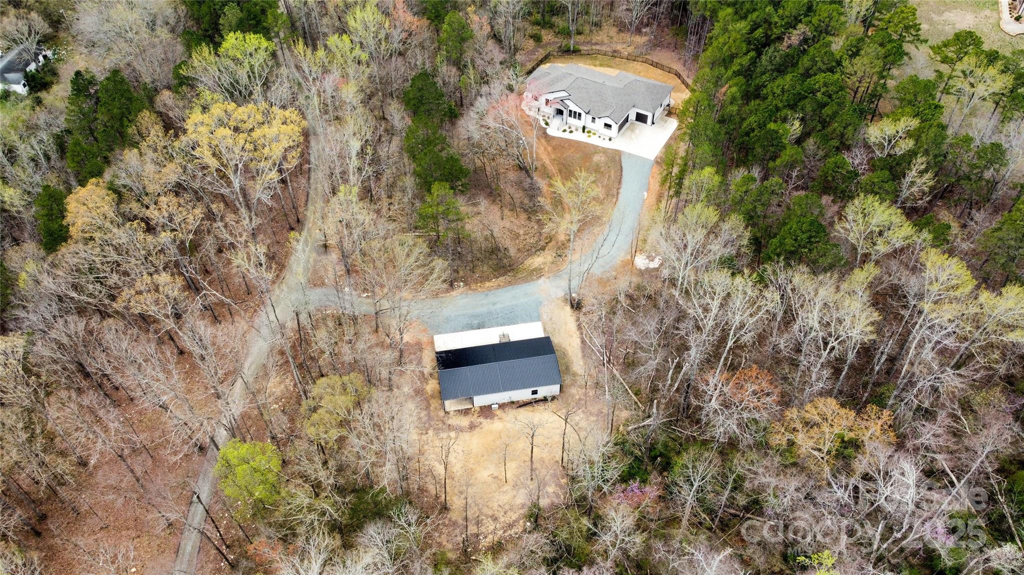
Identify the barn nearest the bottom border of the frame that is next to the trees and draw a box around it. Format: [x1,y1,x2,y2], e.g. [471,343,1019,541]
[433,322,564,412]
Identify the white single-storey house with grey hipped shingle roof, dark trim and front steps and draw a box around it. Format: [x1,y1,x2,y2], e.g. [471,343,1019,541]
[525,62,677,137]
